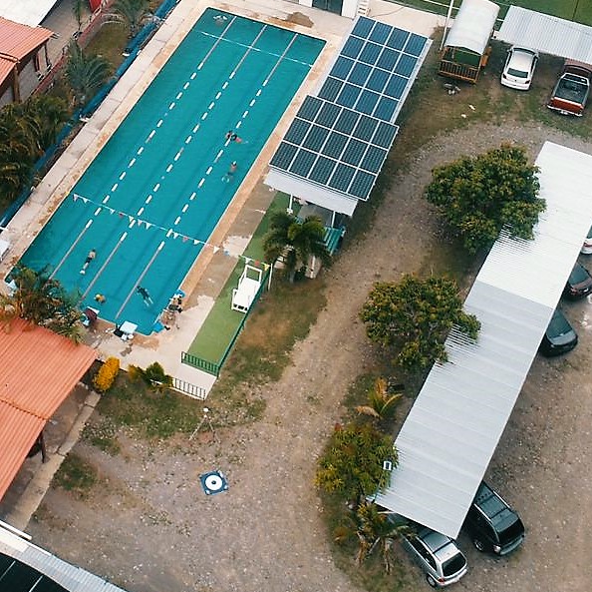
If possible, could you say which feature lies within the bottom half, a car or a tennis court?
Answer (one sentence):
It is a car that can be seen within the bottom half.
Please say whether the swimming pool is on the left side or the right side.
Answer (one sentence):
The swimming pool appears in the left half of the scene.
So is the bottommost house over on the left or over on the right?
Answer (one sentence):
You can find the bottommost house on the left side of the picture.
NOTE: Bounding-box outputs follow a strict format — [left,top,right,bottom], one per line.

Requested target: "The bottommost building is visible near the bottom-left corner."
[0,515,125,592]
